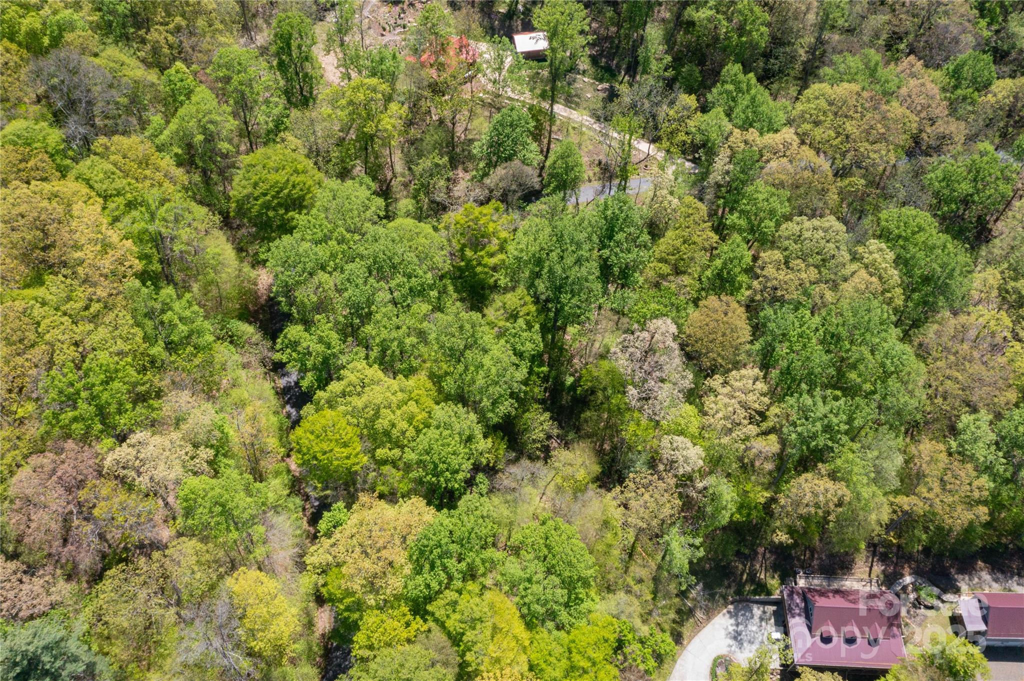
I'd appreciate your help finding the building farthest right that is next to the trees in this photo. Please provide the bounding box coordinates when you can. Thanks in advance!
[935,591,1024,646]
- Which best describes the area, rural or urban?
rural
